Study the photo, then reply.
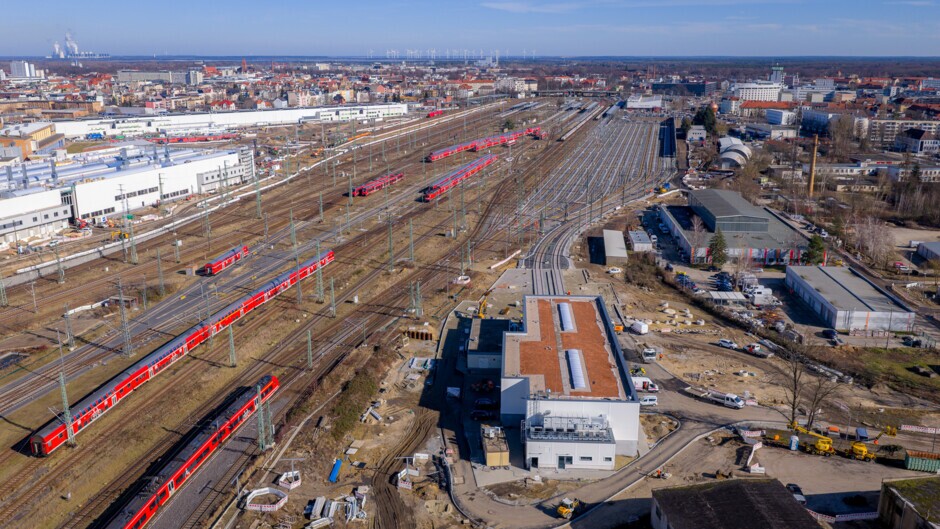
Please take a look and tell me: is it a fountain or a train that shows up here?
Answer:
train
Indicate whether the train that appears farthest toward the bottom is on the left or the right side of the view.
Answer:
left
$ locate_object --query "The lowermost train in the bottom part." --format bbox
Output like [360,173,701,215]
[85,373,285,529]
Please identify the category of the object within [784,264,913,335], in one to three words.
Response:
building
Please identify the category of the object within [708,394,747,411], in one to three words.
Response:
vehicle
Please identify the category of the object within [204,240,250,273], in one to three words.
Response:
train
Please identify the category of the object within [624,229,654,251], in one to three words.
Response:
building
